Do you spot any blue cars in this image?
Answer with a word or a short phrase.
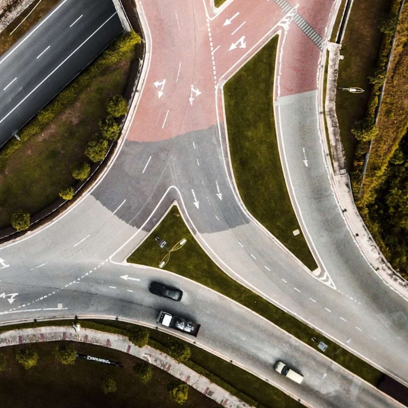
No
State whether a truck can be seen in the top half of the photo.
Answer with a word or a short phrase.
No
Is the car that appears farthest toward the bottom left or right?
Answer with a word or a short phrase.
right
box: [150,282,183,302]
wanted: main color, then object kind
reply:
black car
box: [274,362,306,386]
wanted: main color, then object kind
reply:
white car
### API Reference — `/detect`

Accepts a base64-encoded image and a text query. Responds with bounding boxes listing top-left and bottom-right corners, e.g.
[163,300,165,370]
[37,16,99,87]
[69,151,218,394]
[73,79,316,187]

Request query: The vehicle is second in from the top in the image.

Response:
[156,310,201,339]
